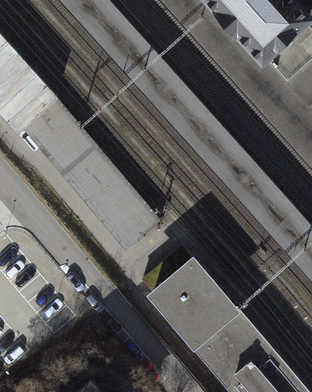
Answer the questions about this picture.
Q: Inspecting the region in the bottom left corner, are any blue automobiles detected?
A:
Yes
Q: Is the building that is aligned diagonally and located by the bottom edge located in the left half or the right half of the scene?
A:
right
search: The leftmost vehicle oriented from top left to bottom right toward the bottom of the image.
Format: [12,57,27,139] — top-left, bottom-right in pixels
[66,270,85,292]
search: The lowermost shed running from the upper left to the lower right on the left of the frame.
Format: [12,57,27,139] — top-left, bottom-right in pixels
[26,98,162,251]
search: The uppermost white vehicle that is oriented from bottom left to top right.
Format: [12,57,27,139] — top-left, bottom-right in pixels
[6,260,26,278]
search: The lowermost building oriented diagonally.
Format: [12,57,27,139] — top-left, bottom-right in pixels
[147,258,308,392]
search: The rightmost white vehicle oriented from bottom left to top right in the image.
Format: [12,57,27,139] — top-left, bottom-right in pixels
[44,298,64,317]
